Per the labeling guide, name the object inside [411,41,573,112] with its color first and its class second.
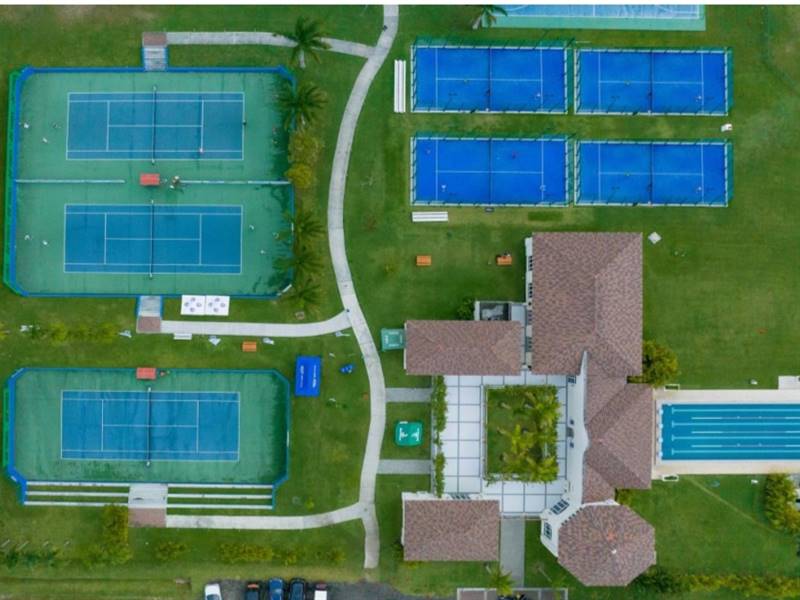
blue sports court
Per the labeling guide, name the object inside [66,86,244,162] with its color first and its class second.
blue tennis court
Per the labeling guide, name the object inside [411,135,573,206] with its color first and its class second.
blue sports court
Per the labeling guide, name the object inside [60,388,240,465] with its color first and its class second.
blue tennis court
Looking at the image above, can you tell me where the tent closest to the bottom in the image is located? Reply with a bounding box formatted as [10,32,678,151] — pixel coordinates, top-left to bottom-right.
[394,420,422,446]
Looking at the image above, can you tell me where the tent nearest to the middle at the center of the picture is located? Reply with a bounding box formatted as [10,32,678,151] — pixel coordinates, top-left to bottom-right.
[380,329,405,350]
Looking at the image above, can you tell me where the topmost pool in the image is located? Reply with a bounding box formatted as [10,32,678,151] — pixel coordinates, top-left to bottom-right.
[652,388,800,475]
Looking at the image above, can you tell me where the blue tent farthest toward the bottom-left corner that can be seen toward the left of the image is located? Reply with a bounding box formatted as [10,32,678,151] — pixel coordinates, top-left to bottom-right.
[295,355,321,396]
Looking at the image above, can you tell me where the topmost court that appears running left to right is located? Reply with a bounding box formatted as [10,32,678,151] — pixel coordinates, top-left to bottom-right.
[483,0,705,29]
